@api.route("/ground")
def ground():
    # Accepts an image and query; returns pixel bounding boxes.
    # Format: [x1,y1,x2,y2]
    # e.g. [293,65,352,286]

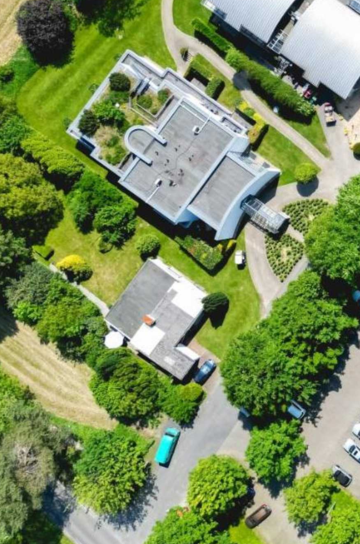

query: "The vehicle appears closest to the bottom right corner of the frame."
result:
[331,465,355,486]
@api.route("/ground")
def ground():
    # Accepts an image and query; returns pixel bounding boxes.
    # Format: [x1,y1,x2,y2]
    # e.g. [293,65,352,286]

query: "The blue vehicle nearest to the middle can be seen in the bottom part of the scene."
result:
[194,359,217,383]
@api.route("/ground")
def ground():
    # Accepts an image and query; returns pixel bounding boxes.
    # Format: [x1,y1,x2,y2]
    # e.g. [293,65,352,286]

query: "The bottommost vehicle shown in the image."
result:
[247,503,272,525]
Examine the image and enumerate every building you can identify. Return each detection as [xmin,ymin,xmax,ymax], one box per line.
[66,49,282,240]
[105,259,209,380]
[200,0,360,98]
